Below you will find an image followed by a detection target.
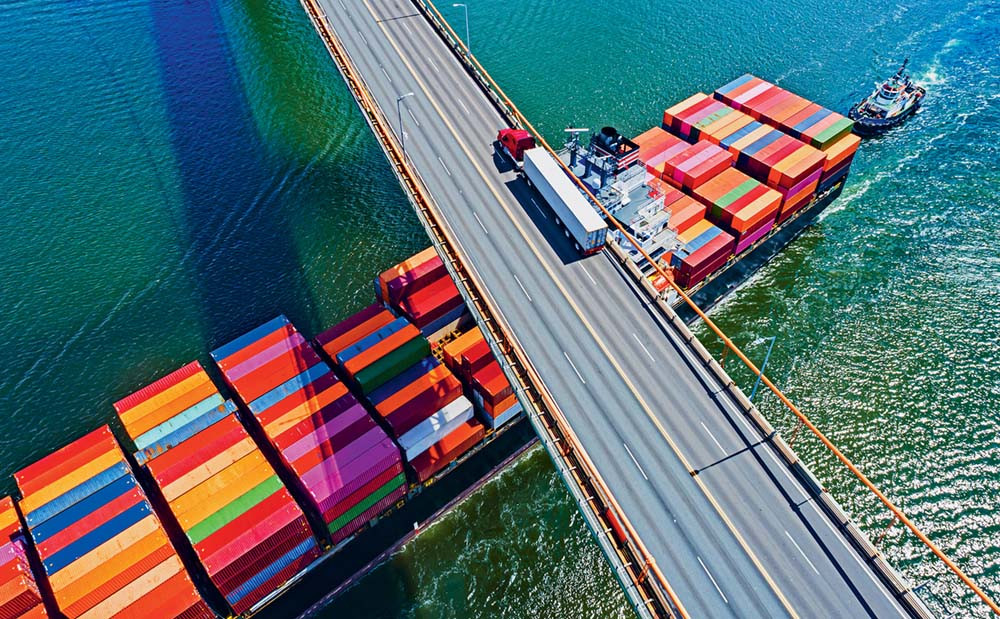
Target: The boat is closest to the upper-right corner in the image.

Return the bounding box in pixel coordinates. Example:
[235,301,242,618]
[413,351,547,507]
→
[843,53,934,131]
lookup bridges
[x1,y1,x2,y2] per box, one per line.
[296,0,1000,619]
